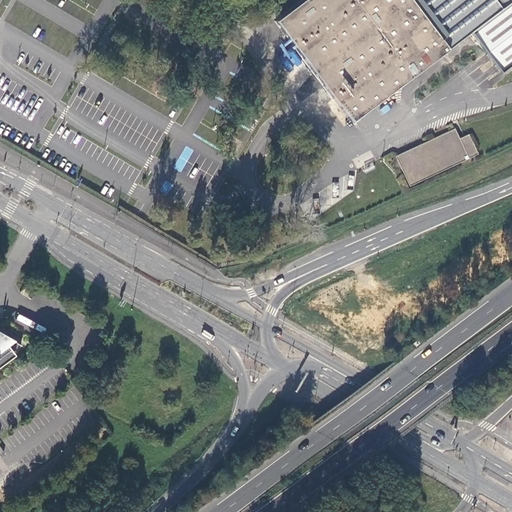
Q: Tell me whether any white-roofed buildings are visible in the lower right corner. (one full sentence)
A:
No, I see no white-roofed building in the lower right corner.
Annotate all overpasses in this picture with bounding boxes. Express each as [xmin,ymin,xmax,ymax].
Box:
[319,352,445,469]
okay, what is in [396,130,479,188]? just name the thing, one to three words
building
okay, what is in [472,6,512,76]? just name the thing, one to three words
building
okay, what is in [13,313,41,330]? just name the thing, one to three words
vehicle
